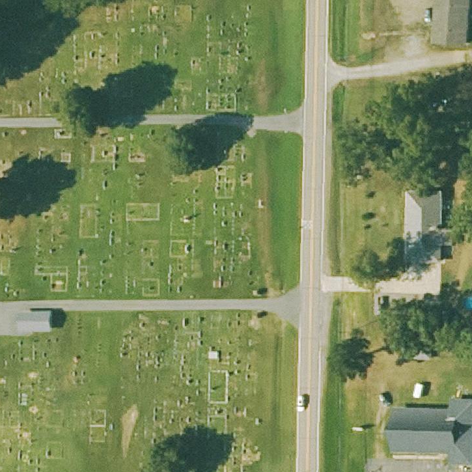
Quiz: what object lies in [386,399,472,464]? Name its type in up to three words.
building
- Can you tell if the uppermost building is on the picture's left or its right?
right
